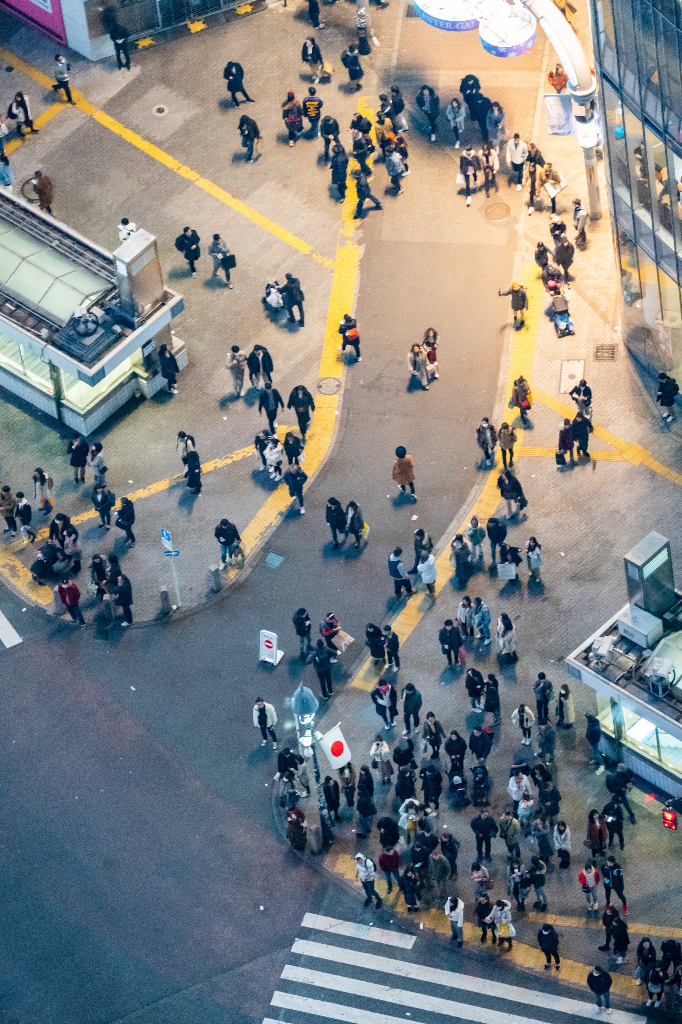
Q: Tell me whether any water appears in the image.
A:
No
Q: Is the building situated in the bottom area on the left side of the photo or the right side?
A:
right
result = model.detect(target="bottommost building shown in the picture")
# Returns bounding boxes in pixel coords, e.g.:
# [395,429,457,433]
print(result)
[560,527,682,800]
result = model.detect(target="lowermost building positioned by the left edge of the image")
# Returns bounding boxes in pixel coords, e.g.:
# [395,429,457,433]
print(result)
[0,189,200,436]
